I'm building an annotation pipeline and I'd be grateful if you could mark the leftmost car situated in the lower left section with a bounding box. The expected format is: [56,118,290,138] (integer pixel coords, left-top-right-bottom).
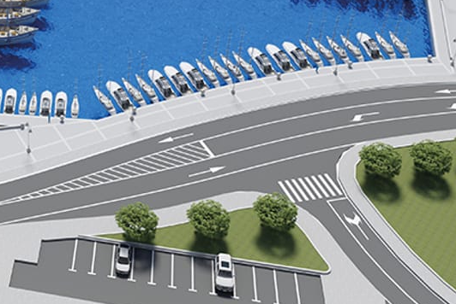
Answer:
[116,245,132,275]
